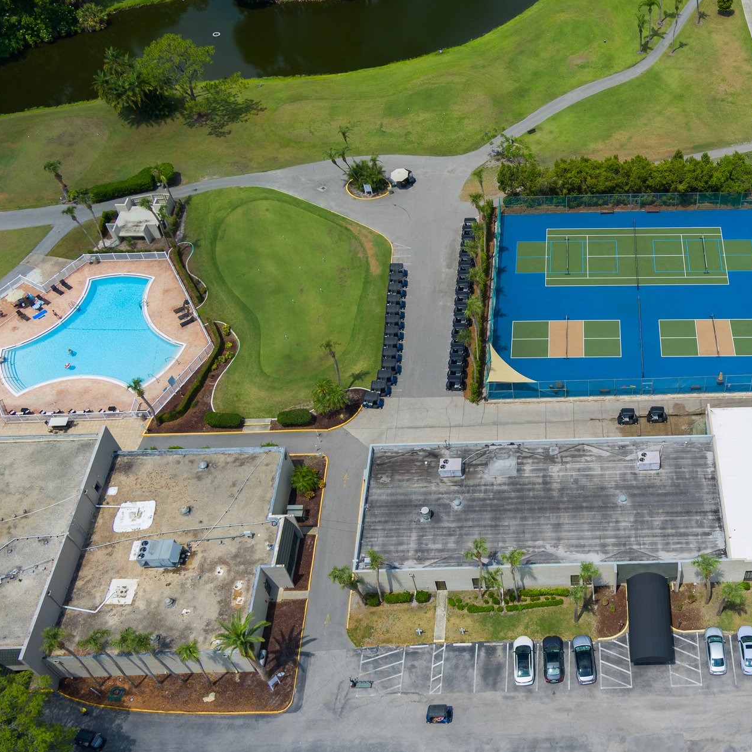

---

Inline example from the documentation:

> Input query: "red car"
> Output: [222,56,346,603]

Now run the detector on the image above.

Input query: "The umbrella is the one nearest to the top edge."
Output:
[389,166,409,179]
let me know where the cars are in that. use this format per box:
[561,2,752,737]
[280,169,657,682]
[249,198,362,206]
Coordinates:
[541,636,565,684]
[738,627,752,676]
[511,636,535,686]
[572,635,597,686]
[703,628,727,676]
